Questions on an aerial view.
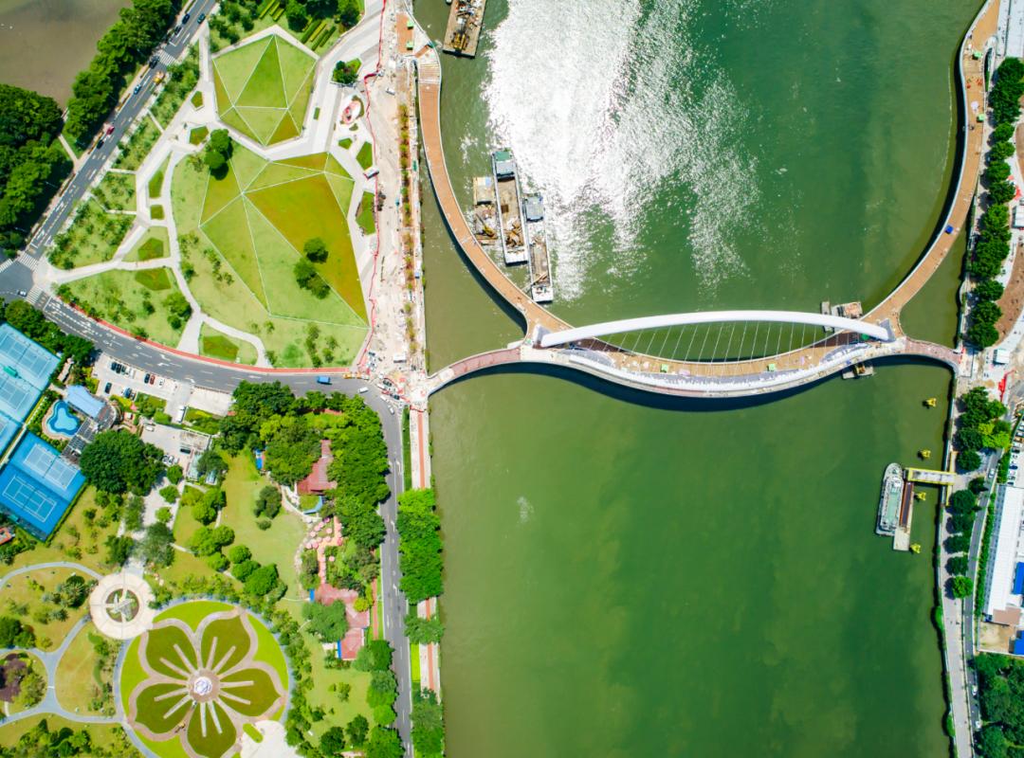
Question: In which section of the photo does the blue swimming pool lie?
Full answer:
You can find the blue swimming pool in the left area of the picture.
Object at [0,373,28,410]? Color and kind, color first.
blue tennis court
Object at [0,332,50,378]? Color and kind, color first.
blue tennis court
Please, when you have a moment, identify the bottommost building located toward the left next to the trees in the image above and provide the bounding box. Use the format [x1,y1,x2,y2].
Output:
[341,627,365,661]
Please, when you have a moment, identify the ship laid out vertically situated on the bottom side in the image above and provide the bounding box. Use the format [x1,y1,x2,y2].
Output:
[876,463,903,536]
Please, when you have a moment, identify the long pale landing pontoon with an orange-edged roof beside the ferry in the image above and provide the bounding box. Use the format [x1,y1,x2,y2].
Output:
[892,480,914,551]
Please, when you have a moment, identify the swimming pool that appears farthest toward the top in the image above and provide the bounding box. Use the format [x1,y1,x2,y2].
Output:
[42,396,85,441]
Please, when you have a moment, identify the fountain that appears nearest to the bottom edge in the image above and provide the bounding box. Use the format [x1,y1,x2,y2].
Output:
[194,678,212,695]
